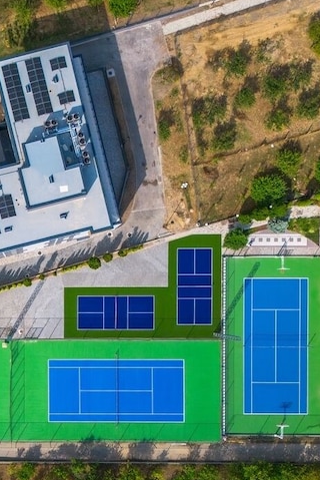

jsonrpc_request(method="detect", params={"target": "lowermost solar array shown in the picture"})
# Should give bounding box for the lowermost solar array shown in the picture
[0,194,17,219]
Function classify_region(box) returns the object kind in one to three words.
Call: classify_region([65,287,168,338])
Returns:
sports court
